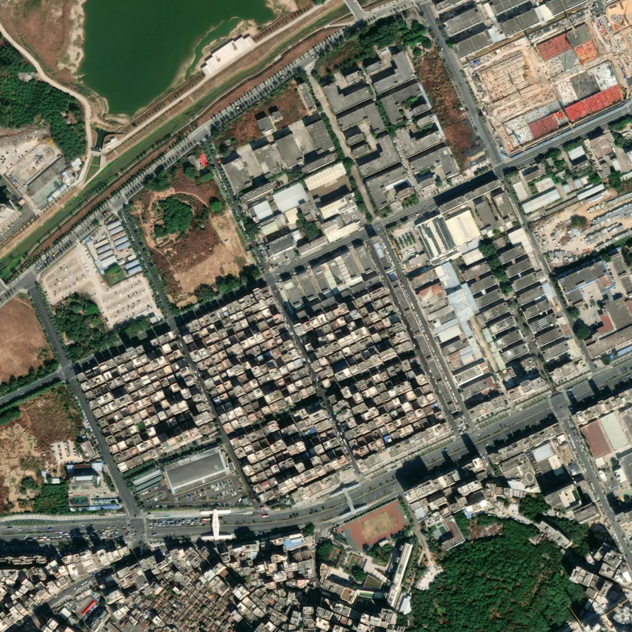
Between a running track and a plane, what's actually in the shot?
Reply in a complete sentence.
Looking from above, you can make out a running track.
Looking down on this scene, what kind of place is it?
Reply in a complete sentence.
It's a residential area.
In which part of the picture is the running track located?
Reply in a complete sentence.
You can find the running track in the bottom area of the picture.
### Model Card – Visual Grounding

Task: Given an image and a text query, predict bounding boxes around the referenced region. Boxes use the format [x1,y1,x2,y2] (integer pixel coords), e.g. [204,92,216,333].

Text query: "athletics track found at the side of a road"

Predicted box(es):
[337,501,410,550]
